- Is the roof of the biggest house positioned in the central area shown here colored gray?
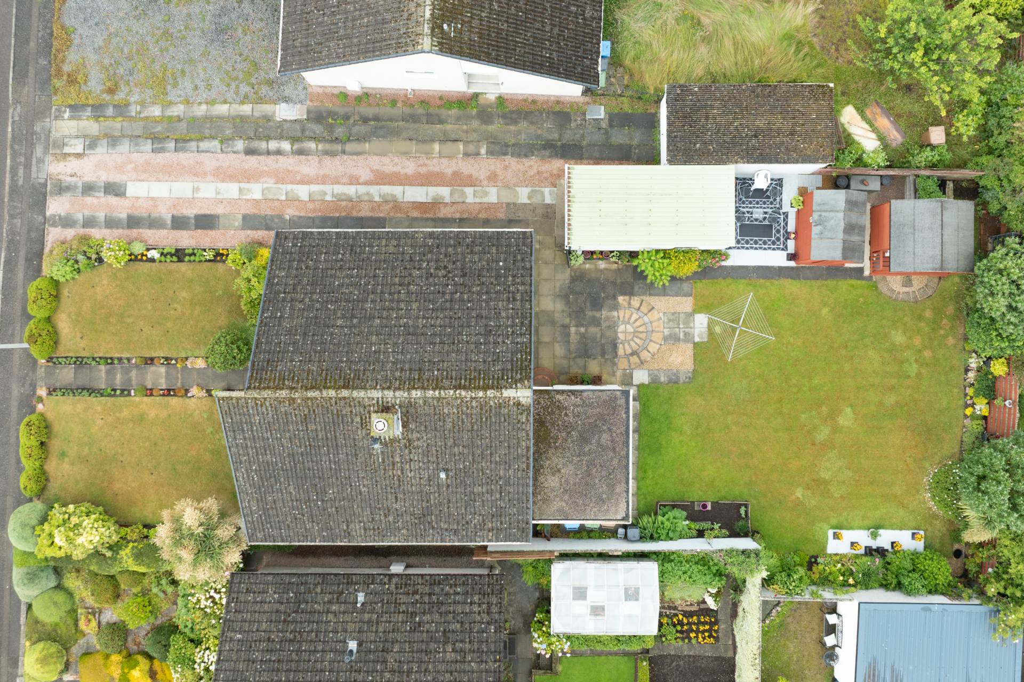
Yes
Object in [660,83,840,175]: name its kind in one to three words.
building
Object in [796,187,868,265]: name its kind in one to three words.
shed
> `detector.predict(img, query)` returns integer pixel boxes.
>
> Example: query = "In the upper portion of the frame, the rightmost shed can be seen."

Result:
[871,196,975,274]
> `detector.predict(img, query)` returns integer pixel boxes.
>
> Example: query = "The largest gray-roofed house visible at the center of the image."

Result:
[210,227,631,546]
